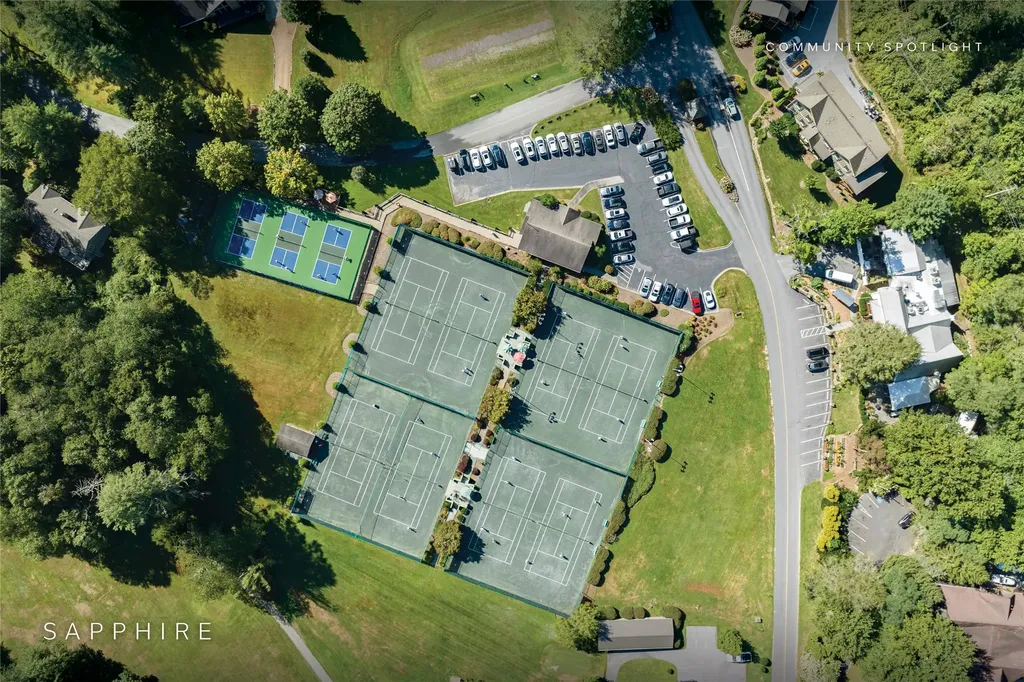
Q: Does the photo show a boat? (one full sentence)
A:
No, the frame has no boat in it.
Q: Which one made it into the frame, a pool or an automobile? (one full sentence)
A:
It is an automobile that can be seen here.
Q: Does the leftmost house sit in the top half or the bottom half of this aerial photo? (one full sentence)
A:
The leftmost house sits in the top half of the picture.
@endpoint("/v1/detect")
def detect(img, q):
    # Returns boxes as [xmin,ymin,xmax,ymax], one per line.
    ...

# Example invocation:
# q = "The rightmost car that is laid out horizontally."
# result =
[991,573,1013,585]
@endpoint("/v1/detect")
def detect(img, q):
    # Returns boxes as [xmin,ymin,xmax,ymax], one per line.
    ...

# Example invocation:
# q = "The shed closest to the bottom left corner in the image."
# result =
[276,424,317,457]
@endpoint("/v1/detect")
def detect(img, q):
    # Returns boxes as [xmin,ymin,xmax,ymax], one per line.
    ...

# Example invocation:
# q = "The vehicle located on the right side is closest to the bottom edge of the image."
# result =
[724,650,749,662]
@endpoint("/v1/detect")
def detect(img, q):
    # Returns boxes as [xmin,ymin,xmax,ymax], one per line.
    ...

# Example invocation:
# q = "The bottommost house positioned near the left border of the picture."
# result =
[18,184,110,257]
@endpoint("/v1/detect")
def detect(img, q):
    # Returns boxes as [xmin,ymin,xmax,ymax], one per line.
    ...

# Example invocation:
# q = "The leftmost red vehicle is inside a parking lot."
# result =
[690,291,702,315]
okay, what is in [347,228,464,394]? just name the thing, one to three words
tennis court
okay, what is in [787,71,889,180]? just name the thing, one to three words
house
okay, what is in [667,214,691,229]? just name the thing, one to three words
vehicle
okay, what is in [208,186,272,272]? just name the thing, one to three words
sports court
